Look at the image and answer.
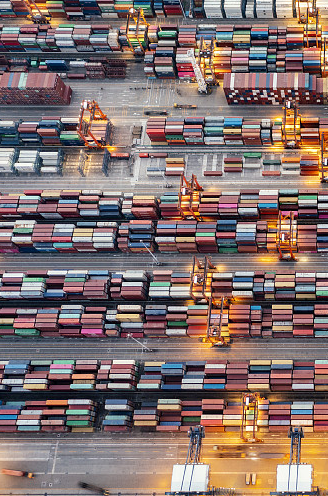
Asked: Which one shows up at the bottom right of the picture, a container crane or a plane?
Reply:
container crane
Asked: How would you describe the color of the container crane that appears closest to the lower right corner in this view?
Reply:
white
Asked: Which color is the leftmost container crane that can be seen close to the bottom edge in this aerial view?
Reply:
white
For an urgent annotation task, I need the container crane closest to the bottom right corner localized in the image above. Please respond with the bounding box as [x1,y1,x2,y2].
[269,430,328,496]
